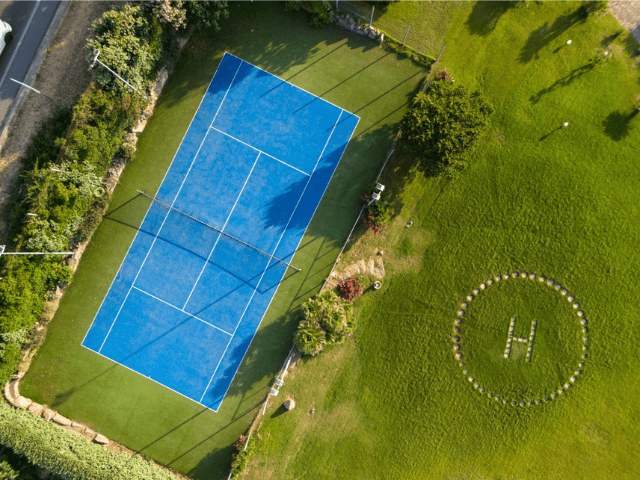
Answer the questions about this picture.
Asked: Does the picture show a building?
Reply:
No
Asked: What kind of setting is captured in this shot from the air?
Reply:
sports ground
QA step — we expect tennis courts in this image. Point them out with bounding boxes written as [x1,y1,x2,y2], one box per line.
[19,0,431,480]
